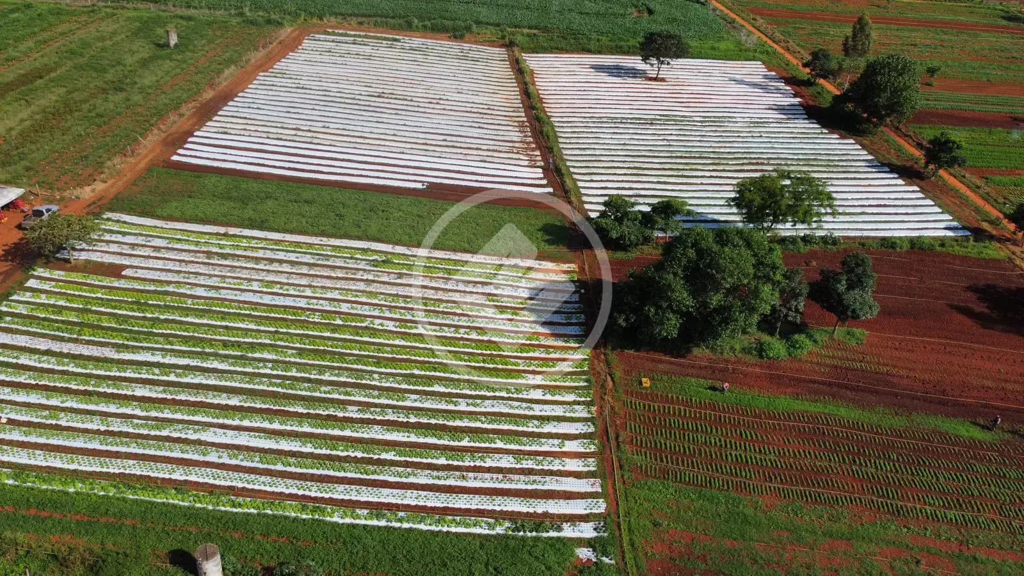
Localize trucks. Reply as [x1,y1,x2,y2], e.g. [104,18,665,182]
[21,203,61,228]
